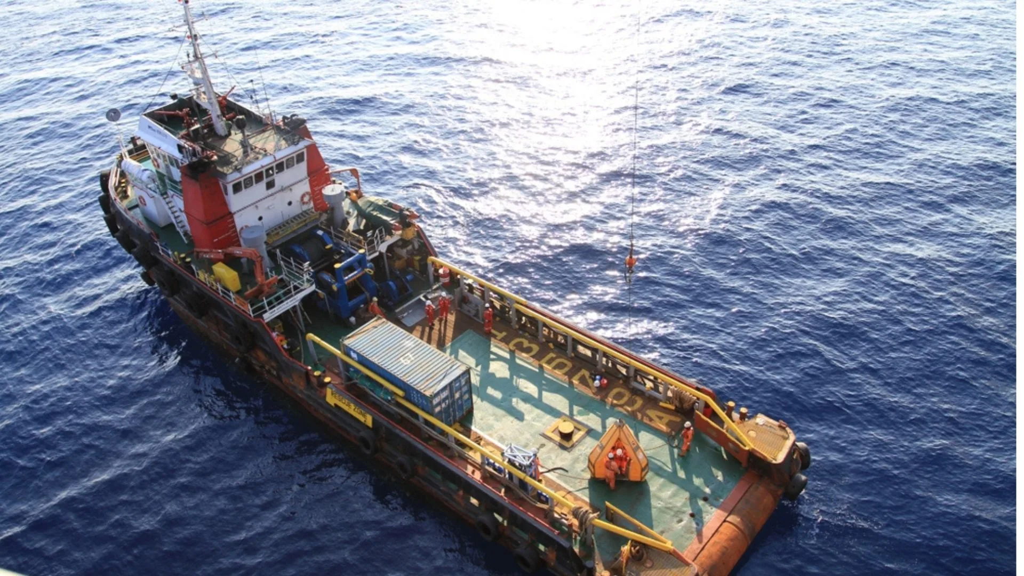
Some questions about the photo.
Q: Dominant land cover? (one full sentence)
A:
What you mostly see from above here is water.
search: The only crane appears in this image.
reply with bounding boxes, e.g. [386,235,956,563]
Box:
[195,238,295,301]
